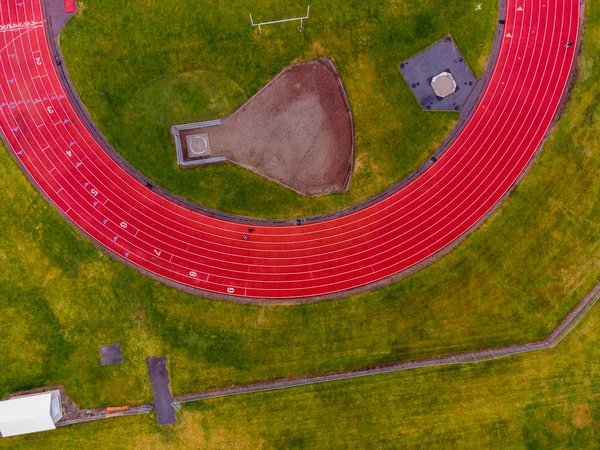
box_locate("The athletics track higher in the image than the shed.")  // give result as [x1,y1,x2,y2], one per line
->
[0,0,579,298]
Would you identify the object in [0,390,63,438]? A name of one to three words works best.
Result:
shed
